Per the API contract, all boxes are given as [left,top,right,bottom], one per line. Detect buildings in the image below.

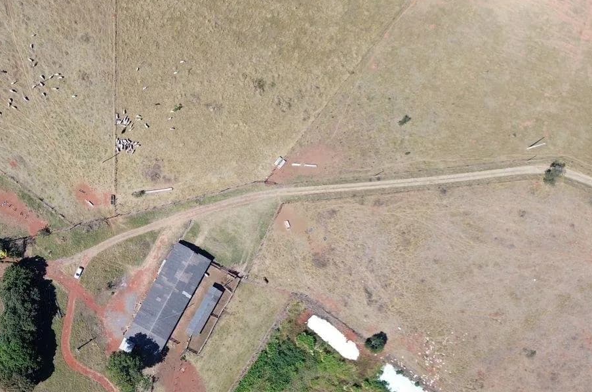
[185,286,224,335]
[120,244,213,362]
